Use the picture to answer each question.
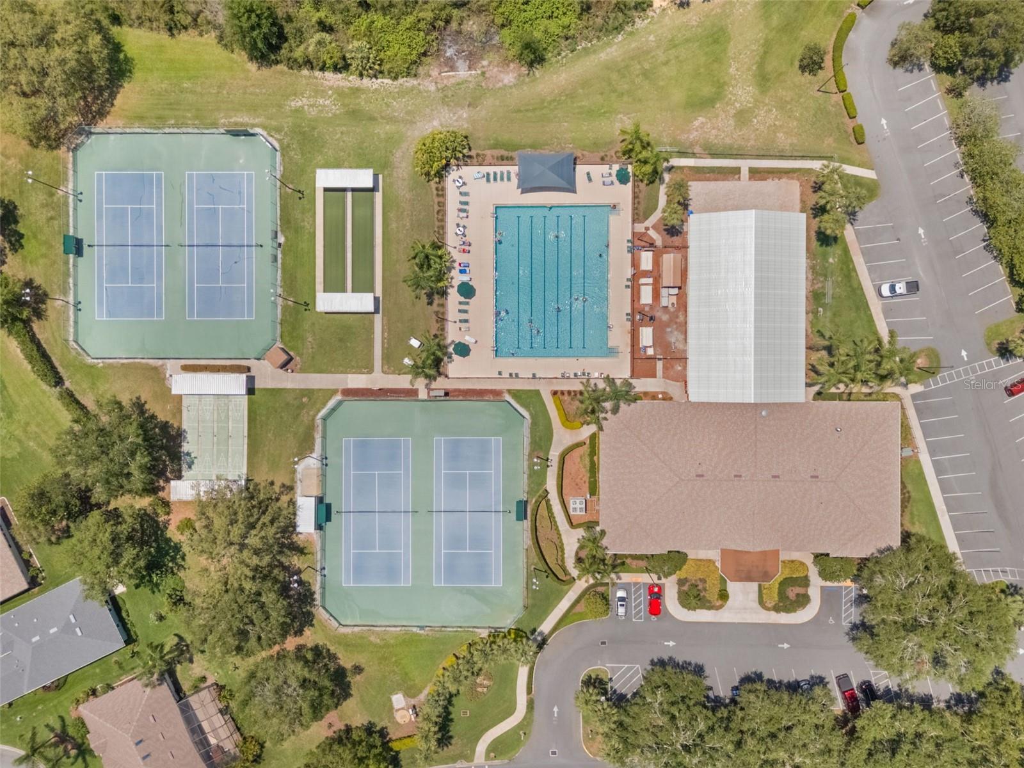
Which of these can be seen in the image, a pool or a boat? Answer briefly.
pool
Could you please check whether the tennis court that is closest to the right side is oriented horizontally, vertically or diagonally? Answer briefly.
vertically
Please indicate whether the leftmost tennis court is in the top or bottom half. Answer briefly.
top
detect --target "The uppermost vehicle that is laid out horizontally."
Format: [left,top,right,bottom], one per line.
[880,279,922,296]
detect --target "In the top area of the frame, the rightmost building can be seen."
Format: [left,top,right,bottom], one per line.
[682,209,806,403]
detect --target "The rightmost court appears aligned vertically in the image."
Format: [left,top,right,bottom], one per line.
[422,401,524,625]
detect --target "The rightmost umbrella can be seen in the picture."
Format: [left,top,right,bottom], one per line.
[615,168,631,184]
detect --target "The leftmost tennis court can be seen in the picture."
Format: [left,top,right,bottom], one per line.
[78,134,175,358]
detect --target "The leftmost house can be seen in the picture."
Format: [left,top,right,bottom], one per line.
[0,517,35,600]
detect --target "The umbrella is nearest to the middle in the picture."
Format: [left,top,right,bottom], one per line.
[453,340,471,358]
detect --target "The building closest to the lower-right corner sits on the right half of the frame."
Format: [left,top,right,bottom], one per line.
[599,401,901,583]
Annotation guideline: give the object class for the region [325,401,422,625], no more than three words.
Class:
tennis court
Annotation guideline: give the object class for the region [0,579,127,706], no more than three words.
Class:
house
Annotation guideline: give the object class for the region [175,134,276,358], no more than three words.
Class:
tennis court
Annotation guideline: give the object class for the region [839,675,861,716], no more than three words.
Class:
truck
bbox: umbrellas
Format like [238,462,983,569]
[615,168,631,184]
[453,340,471,358]
[457,281,476,300]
